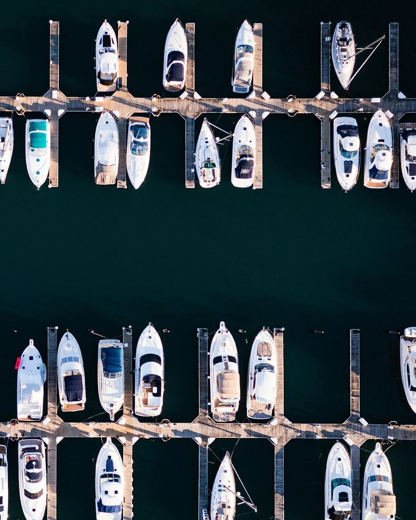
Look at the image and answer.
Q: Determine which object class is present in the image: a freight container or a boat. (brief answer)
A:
boat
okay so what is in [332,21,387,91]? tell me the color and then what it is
white boat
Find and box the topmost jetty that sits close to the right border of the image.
[381,22,400,98]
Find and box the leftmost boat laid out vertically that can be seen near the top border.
[95,20,117,92]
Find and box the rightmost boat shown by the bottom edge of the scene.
[359,442,396,520]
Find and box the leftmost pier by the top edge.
[42,19,68,96]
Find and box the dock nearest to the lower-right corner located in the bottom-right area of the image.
[343,439,369,520]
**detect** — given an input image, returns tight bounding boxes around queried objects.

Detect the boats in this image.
[195,116,233,188]
[363,107,395,189]
[231,113,257,187]
[404,327,416,337]
[135,322,165,415]
[163,18,189,92]
[211,452,257,520]
[94,436,124,520]
[331,117,360,193]
[97,339,125,422]
[17,339,45,421]
[392,336,416,413]
[57,330,86,411]
[332,21,387,91]
[95,111,119,184]
[95,20,117,92]
[232,18,256,93]
[322,442,353,520]
[0,445,8,520]
[19,439,47,520]
[359,442,396,520]
[397,122,416,191]
[25,119,51,188]
[209,321,240,422]
[126,116,150,190]
[245,329,278,419]
[0,117,15,184]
